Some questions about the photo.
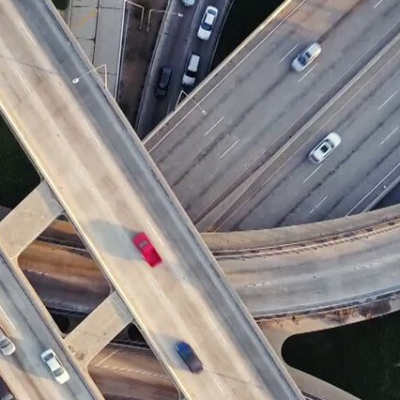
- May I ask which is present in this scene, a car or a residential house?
car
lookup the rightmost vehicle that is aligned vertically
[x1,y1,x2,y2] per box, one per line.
[199,5,216,37]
